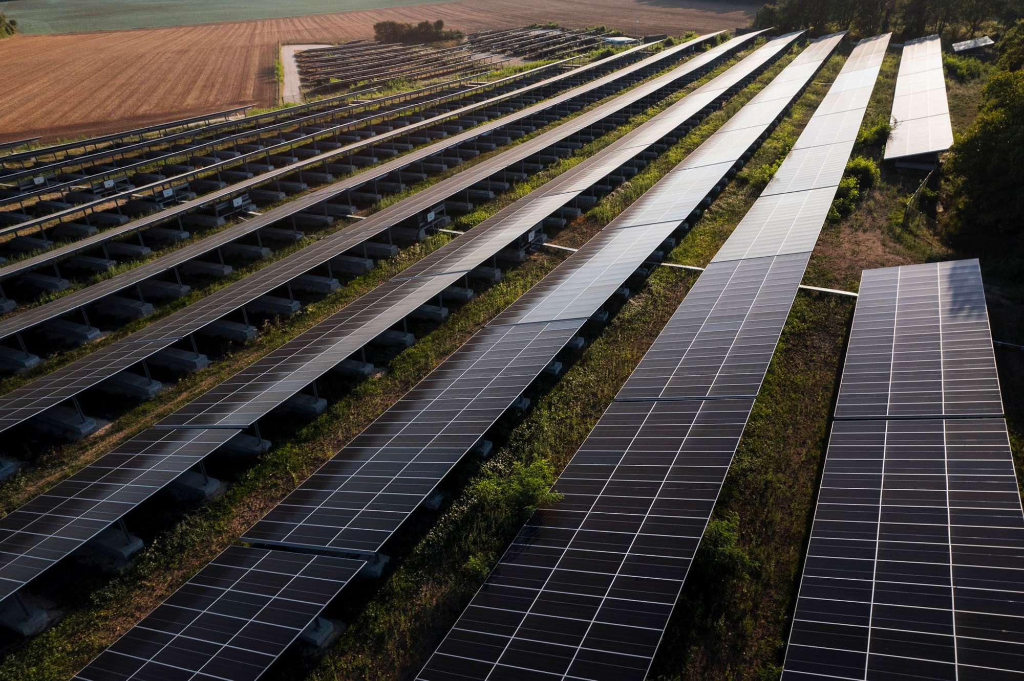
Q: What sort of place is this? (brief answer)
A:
solar farm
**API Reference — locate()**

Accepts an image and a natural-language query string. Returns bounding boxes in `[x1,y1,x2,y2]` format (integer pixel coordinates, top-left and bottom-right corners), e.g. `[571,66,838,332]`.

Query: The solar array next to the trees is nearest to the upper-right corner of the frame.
[956,40,996,57]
